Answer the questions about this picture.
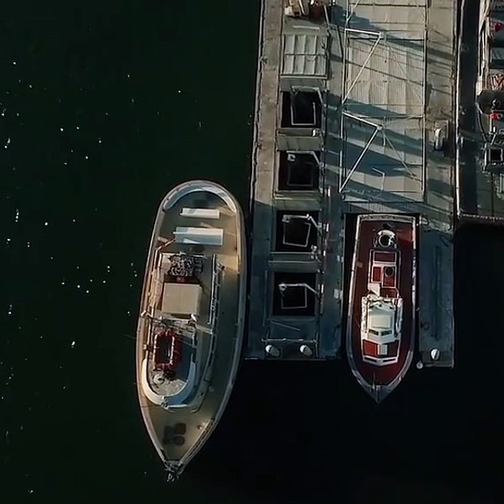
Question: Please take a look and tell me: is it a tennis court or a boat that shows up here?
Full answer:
Of the two, only a boat appears.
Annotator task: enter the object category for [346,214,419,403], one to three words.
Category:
boat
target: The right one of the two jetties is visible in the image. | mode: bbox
[419,0,456,367]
